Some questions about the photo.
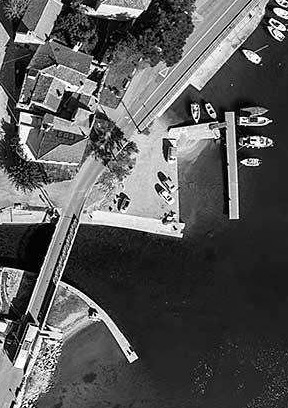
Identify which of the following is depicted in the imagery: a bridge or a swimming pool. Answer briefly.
bridge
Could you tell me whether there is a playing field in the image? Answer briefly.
No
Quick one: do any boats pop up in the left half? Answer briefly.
No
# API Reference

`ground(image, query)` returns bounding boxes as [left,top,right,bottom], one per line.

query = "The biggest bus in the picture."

[18,325,45,372]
